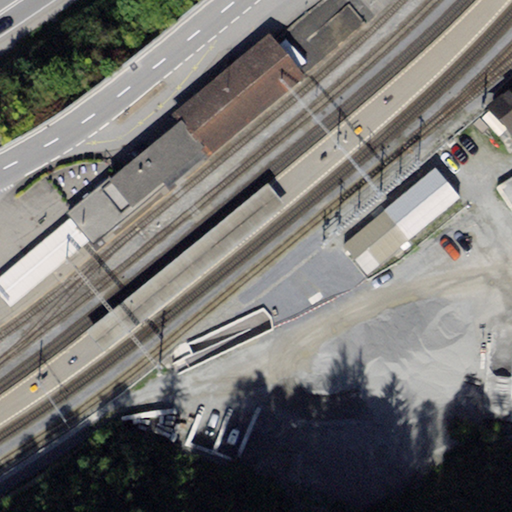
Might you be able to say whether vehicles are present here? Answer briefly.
Yes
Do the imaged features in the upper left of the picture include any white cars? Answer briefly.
No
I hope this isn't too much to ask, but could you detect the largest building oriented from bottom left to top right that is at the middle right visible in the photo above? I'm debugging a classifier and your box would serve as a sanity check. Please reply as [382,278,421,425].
[346,168,460,278]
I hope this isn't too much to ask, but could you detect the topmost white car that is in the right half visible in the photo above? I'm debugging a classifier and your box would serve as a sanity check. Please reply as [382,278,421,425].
[440,150,462,176]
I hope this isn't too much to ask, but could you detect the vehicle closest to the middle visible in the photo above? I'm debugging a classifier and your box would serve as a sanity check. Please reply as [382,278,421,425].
[370,269,394,288]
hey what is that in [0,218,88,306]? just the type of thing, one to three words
shed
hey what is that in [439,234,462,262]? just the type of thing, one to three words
vehicle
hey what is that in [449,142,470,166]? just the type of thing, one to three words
car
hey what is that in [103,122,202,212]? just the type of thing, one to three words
building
